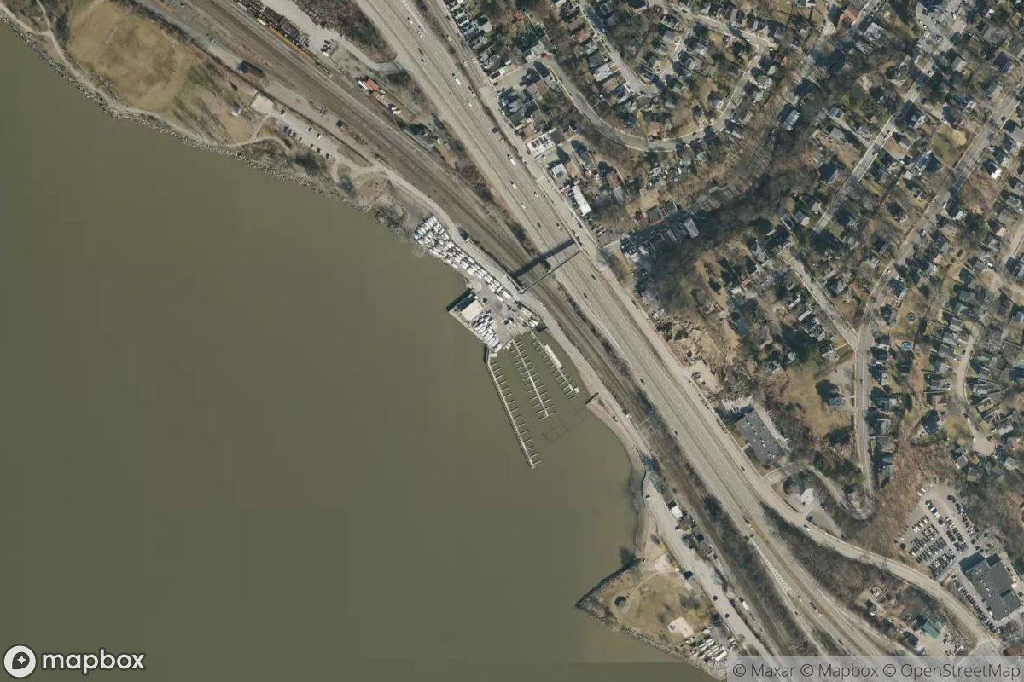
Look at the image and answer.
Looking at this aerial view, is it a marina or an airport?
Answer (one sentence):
The area seen from above is a marina.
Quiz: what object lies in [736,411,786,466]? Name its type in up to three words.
building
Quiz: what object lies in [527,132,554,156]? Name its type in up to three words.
building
